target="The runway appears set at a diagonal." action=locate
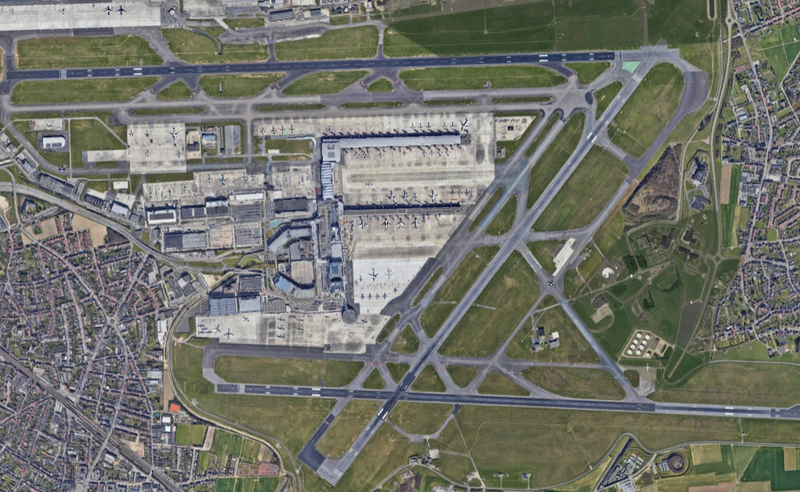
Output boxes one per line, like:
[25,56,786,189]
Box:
[330,55,655,480]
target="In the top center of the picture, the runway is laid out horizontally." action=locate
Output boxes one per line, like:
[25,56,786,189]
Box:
[7,48,679,80]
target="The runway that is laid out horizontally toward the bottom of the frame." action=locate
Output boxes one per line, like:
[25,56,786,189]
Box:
[216,383,800,418]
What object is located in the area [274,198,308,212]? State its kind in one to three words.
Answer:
hangar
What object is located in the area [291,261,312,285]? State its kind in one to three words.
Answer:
building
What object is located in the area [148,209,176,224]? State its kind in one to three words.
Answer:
hangar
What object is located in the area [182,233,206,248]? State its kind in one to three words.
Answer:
building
